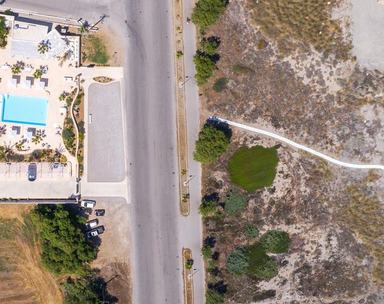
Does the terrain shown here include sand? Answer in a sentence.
Yes, sand shows up in the scene.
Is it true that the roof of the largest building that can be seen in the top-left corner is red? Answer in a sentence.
No, the roof of the largest building that can be seen in the top-left corner is actually white.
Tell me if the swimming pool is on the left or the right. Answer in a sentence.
The swimming pool is on the left side of the image.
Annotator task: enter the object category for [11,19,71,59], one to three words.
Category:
building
